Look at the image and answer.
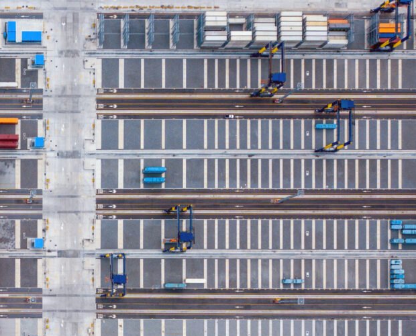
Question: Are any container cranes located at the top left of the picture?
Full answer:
No, no container crane can be made out at the top left of the picture.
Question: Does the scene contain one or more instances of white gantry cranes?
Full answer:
No, I can't see a single white gantry crane in this photo.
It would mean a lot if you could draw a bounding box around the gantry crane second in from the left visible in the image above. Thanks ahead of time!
[162,206,195,252]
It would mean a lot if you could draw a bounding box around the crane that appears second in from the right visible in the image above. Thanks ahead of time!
[314,100,355,151]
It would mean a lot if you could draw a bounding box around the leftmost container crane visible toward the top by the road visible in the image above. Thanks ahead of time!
[250,41,287,96]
